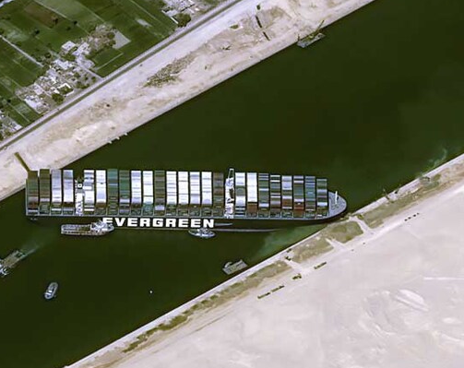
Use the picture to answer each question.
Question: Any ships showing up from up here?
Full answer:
Yes, there's a ship down there.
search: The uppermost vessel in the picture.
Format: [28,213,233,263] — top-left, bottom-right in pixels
[298,31,326,48]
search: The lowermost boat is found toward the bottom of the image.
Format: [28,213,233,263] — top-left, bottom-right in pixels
[44,281,59,298]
